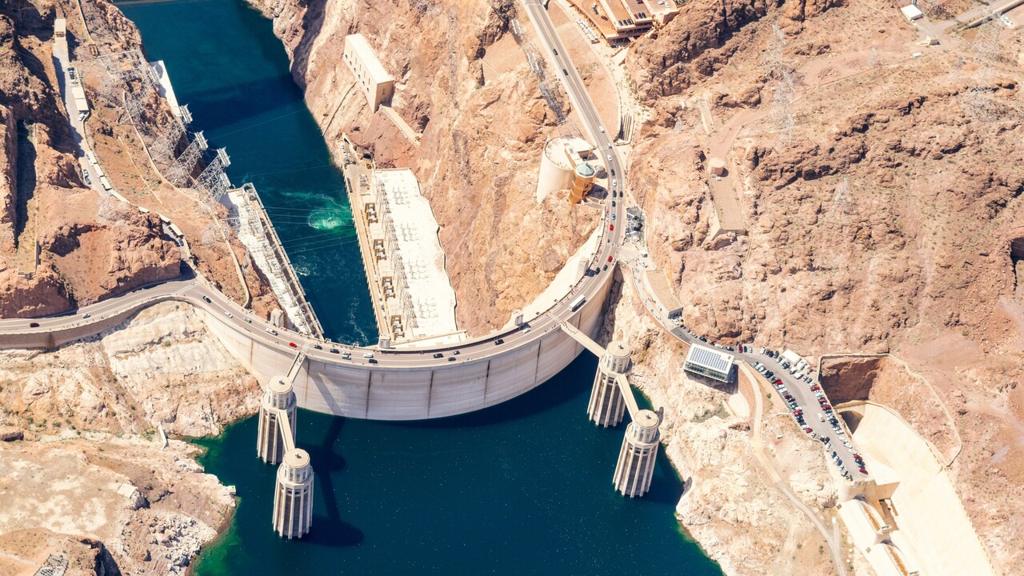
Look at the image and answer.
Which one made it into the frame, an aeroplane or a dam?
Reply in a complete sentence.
The image shows a dam.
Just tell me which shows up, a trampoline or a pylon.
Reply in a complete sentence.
Looking from above, you can make out a pylon.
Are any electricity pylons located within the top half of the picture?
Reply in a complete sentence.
Yes, you'll find an electricity pylon within the top half of the picture.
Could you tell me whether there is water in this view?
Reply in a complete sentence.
Yes, the picture does contain water.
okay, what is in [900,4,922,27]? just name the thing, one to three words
shed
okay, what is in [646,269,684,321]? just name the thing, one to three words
building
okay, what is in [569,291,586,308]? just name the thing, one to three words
vehicle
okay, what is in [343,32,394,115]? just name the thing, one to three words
building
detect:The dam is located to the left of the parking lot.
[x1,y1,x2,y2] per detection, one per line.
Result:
[194,245,621,422]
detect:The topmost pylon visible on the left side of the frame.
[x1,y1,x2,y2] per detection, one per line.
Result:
[156,97,196,156]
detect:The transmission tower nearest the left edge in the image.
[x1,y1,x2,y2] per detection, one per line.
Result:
[94,184,116,222]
